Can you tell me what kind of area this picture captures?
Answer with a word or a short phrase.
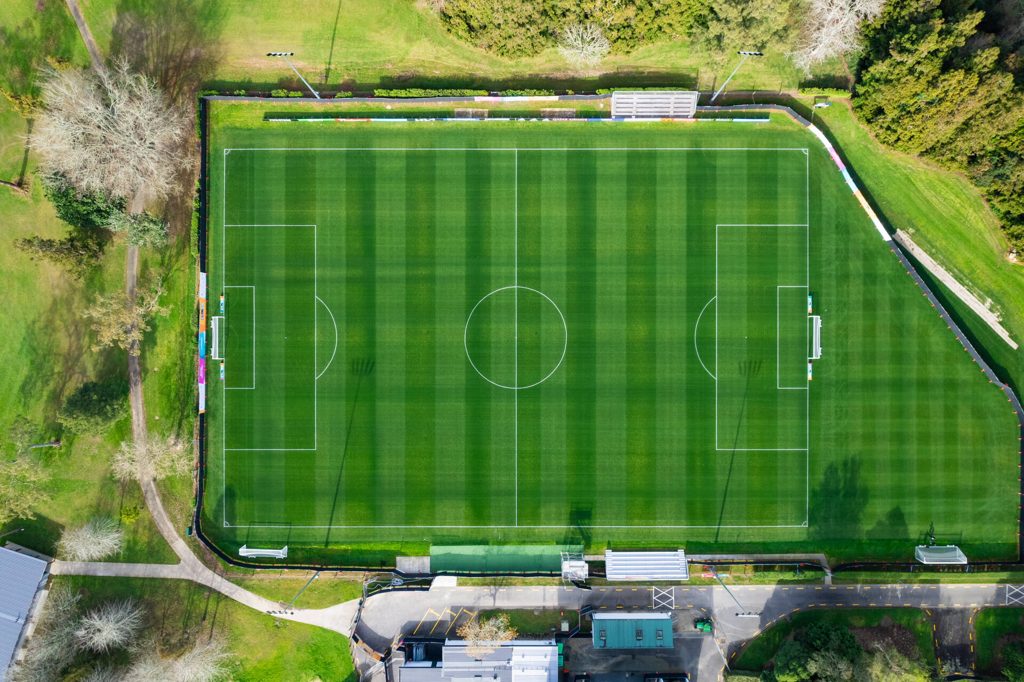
sports ground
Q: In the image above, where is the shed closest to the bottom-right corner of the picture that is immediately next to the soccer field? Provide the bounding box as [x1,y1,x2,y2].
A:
[592,612,677,649]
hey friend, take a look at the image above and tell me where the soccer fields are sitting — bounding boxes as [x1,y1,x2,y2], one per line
[199,98,1020,574]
